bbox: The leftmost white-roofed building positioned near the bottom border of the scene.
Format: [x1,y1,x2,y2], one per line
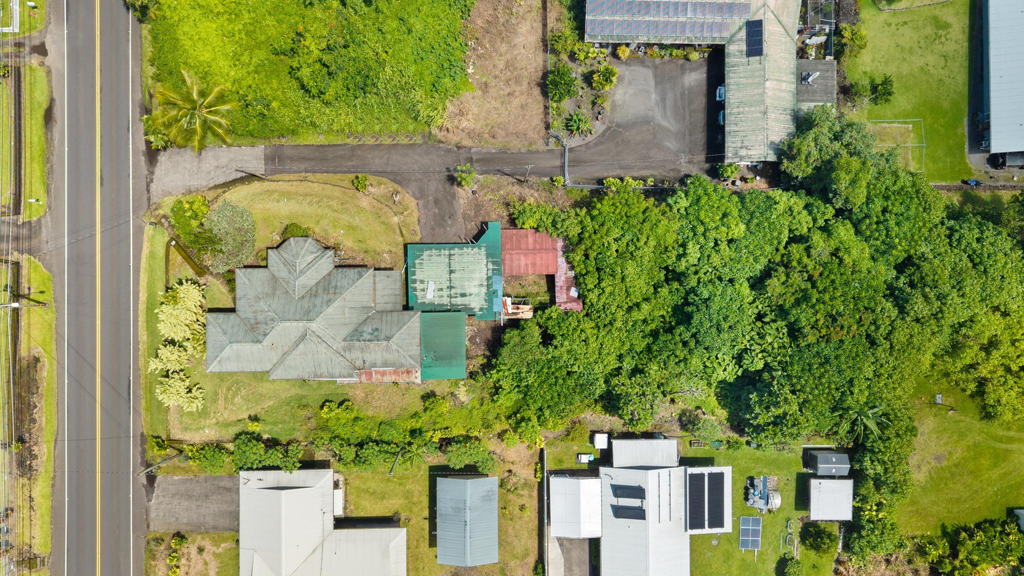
[239,468,407,576]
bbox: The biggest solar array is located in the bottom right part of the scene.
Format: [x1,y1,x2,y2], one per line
[740,516,762,561]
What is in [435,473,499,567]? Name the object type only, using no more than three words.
barn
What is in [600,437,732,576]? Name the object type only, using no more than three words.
house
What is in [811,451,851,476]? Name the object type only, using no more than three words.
shed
